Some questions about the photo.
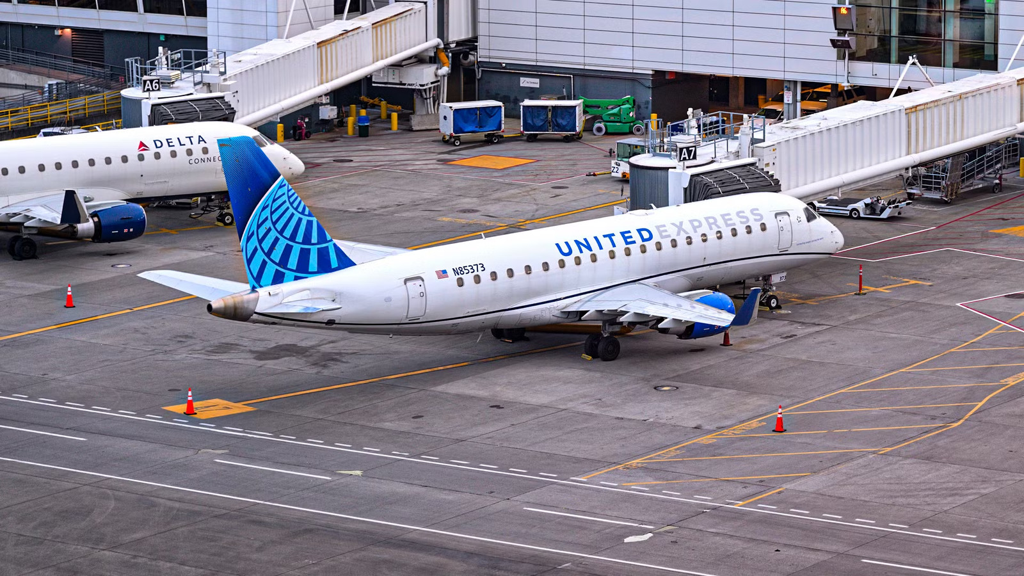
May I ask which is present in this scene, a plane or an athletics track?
plane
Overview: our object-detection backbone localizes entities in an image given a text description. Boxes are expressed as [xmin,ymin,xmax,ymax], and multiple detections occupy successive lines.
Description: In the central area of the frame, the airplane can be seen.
[140,137,844,360]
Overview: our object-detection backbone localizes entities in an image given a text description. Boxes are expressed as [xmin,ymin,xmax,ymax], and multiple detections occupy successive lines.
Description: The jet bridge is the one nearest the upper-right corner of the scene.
[618,35,1024,212]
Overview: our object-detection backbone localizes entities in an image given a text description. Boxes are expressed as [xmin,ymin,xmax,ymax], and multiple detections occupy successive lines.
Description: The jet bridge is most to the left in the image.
[118,0,471,206]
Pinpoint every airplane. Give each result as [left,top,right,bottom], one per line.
[0,121,303,260]
[140,137,844,360]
